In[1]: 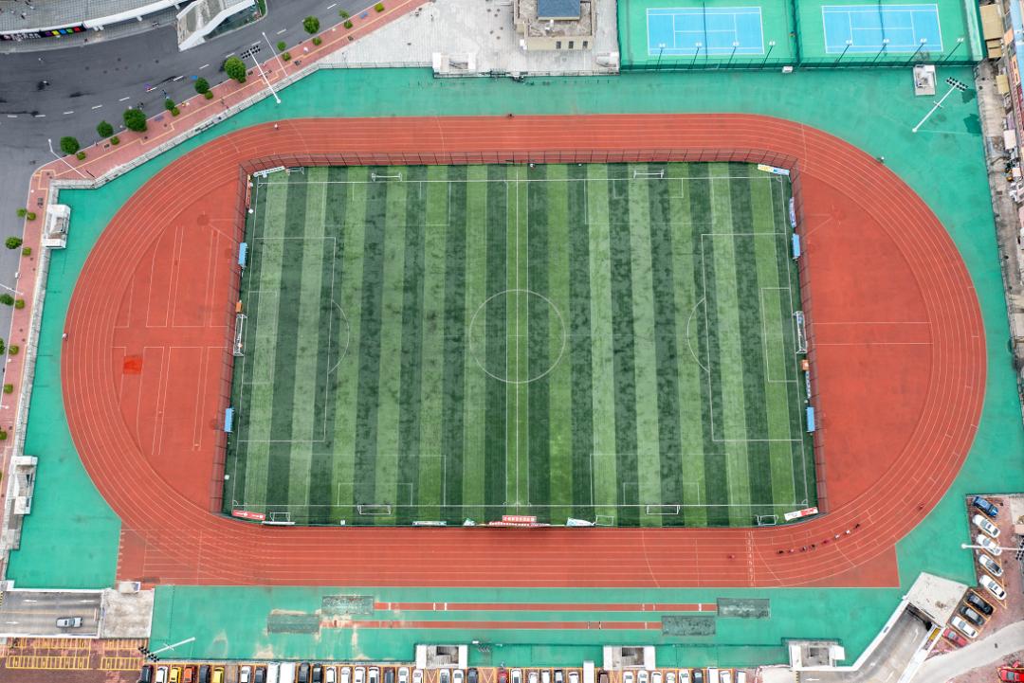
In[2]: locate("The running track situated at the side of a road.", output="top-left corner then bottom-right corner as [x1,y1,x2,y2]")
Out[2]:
[64,112,985,589]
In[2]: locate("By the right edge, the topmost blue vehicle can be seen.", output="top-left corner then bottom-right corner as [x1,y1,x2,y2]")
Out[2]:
[971,494,999,518]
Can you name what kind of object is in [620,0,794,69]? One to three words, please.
tennis court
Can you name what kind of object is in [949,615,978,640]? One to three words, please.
car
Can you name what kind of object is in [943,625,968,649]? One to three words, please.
car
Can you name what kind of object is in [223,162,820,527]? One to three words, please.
soccer field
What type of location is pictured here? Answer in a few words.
sports ground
